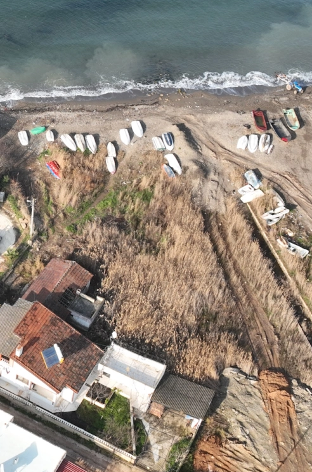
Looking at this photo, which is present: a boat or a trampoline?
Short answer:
boat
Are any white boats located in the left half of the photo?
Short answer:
Yes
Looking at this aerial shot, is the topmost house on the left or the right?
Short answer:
left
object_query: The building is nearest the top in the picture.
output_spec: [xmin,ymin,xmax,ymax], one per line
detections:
[22,259,103,336]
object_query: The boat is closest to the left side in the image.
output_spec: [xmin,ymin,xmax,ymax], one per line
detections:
[16,130,28,149]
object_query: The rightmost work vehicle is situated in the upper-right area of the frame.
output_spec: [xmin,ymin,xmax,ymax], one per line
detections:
[285,74,309,93]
